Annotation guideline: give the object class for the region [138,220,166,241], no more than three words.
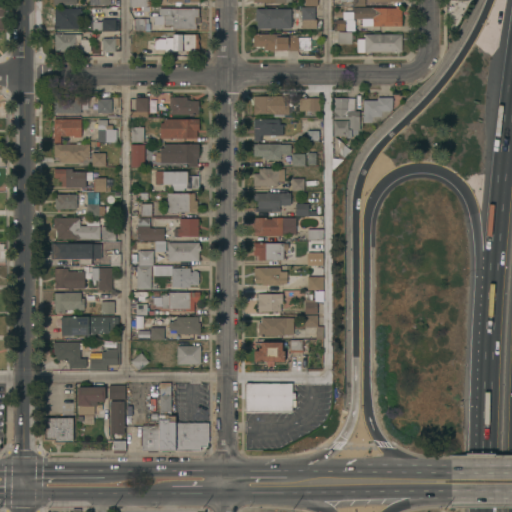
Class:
building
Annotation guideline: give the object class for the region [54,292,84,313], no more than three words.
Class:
house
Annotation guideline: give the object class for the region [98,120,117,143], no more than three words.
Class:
building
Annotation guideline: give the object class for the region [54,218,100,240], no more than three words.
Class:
house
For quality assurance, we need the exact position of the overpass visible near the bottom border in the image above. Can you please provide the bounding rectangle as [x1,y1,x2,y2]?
[444,454,512,507]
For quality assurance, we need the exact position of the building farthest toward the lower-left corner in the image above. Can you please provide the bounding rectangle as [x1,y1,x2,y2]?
[46,418,75,442]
